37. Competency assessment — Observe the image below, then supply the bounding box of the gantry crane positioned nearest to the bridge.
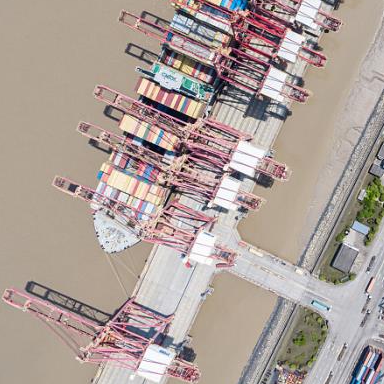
[53,171,245,268]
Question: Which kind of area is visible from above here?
port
